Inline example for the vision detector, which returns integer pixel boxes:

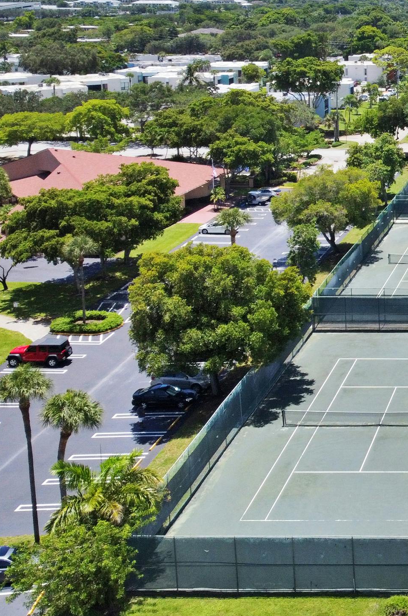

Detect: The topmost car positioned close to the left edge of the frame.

[10,339,73,368]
